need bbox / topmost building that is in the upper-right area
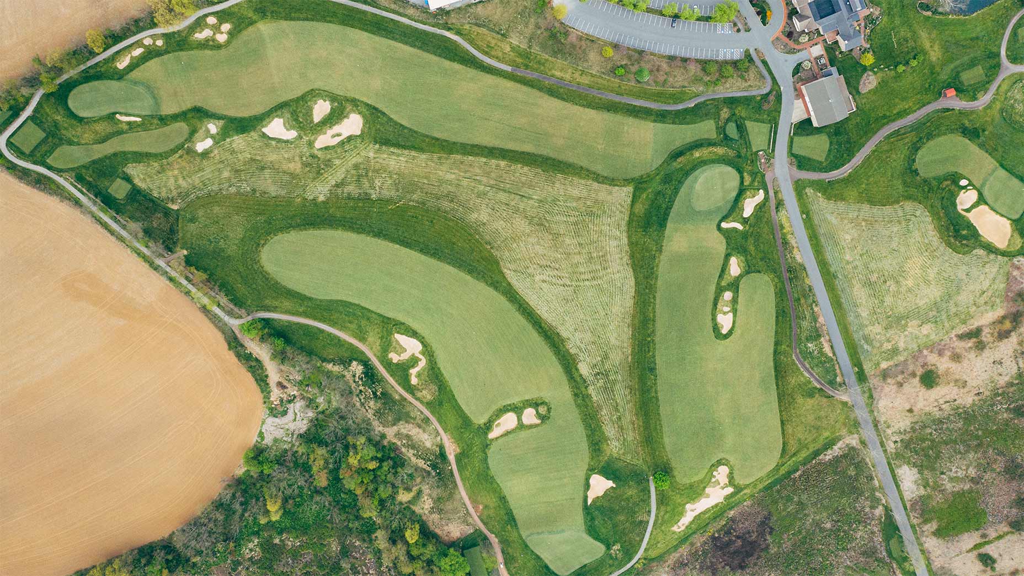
[789,0,867,54]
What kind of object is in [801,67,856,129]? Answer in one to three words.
building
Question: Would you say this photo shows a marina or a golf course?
golf course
